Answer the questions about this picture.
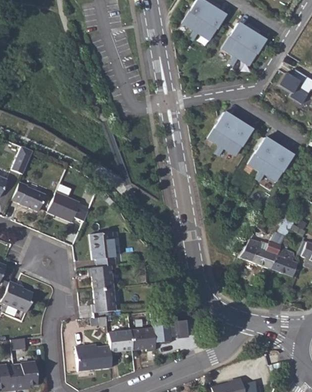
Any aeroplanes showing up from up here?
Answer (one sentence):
No, I find no aeroplane anywhere in the image.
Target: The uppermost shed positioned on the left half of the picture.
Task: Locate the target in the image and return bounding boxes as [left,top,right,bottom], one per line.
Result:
[11,146,34,174]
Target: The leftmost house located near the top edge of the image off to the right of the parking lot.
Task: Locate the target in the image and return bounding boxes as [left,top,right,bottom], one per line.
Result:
[180,0,228,42]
